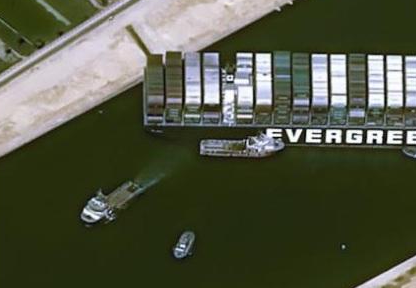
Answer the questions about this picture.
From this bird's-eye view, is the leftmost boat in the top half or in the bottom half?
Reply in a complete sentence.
The leftmost boat is in the bottom half of the image.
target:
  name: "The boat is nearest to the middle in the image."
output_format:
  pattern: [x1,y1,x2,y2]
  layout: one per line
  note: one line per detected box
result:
[199,132,286,157]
